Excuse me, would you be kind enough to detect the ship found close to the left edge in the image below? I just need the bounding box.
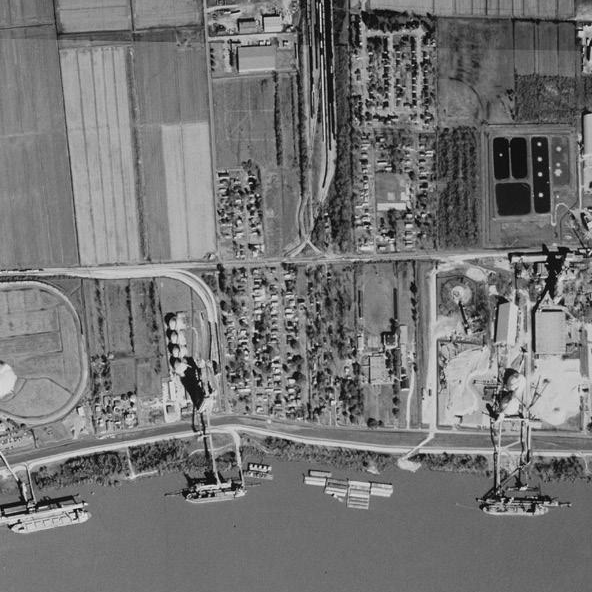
[12,506,92,531]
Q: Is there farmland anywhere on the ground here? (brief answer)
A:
Yes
